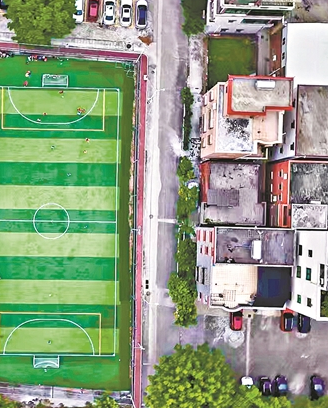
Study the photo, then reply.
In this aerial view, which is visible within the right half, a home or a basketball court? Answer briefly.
home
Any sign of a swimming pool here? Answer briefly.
No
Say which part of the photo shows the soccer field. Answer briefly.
left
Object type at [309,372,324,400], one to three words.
car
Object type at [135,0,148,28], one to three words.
vehicle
